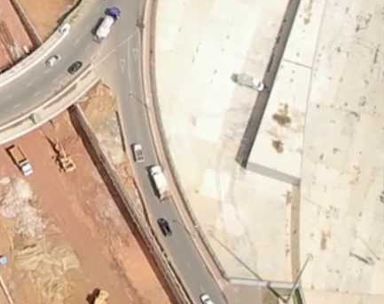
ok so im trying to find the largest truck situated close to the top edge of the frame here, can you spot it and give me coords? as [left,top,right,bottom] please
[95,7,118,39]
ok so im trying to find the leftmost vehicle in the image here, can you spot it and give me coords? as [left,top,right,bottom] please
[9,145,29,176]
